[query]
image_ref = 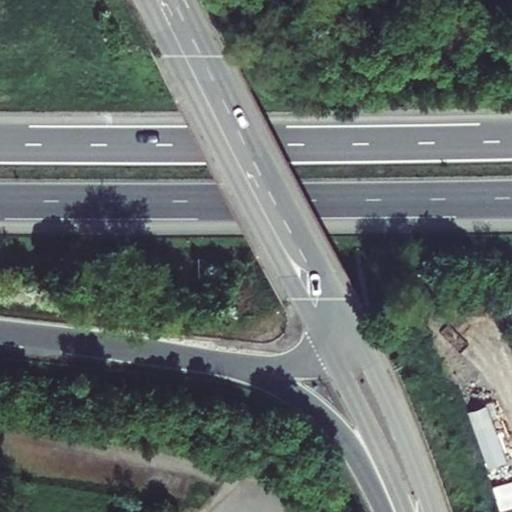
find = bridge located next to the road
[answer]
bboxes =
[152,56,358,300]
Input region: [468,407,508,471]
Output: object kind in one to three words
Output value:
shed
